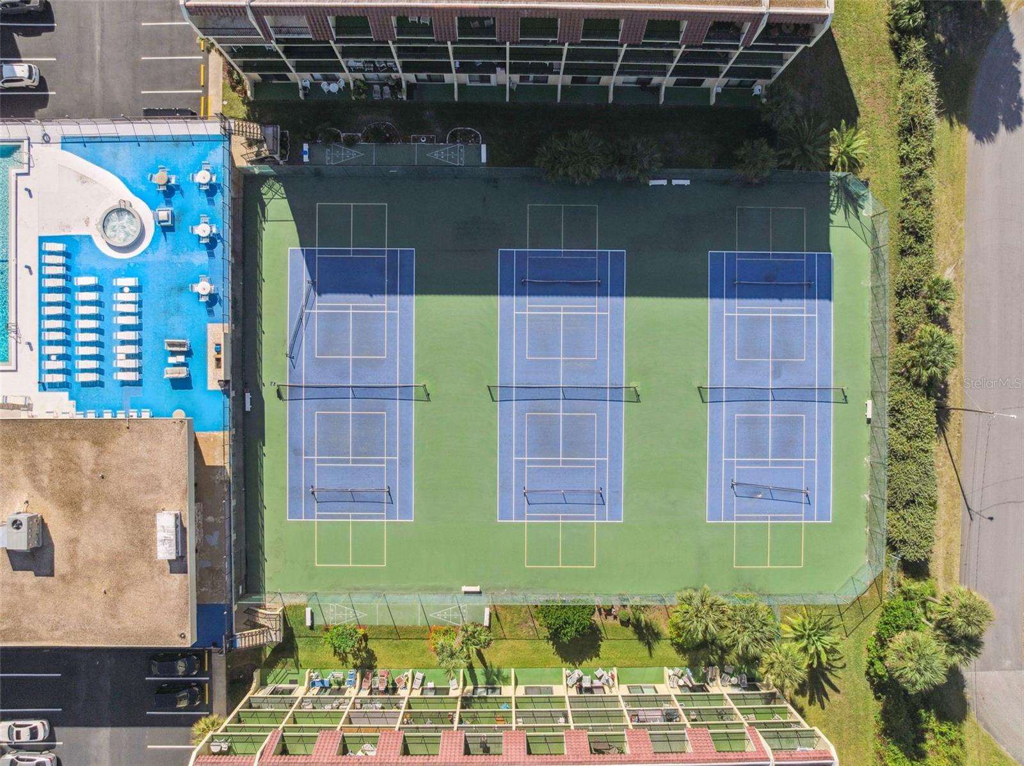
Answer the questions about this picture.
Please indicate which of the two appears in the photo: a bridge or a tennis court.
tennis court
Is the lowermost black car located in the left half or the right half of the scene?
left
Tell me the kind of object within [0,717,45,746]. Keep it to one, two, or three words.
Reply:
car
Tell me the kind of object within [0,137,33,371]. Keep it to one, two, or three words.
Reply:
swimming pool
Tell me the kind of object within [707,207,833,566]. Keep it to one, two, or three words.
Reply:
tennis court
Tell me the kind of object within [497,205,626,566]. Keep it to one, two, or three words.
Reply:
tennis court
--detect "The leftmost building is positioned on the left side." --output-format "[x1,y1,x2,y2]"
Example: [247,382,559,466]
[0,418,198,650]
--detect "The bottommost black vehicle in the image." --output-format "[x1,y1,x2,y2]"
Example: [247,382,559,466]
[156,684,207,711]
